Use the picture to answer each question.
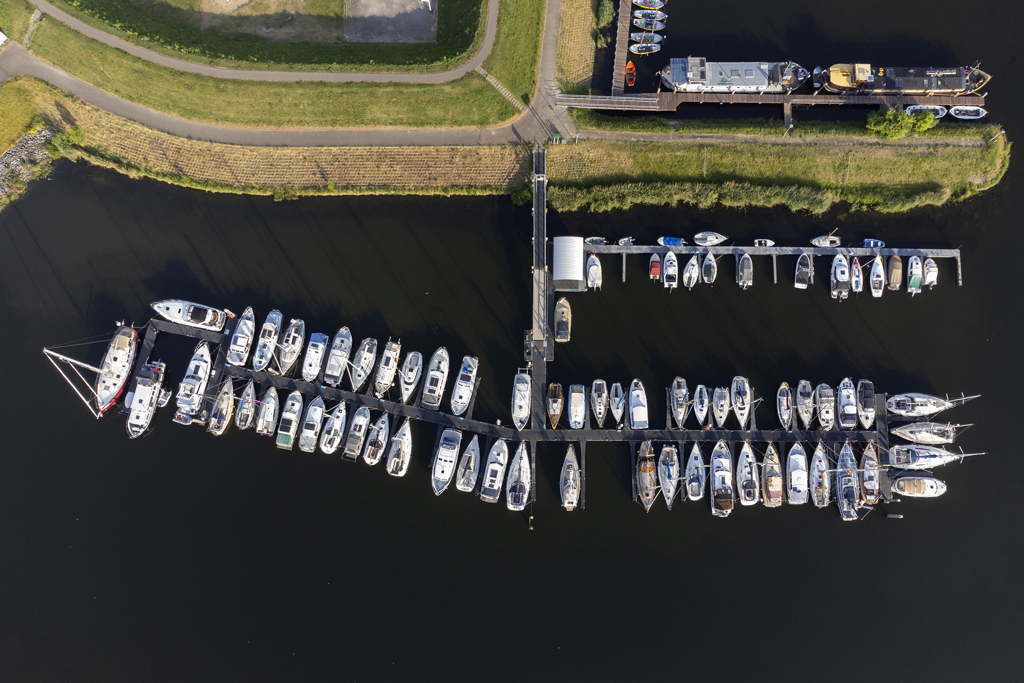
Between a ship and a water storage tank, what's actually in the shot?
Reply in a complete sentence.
Of the two, only a ship appears.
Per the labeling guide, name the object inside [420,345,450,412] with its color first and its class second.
white boat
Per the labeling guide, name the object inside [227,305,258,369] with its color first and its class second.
white boat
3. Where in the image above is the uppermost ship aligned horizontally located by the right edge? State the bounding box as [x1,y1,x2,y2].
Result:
[819,57,995,95]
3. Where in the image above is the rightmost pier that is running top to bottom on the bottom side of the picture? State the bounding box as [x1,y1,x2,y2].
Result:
[874,394,892,499]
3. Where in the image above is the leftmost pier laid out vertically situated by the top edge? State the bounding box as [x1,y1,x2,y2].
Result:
[611,0,632,93]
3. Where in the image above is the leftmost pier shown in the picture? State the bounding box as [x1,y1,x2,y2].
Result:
[122,329,159,414]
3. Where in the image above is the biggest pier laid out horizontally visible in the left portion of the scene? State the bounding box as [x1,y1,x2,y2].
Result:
[224,366,522,441]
